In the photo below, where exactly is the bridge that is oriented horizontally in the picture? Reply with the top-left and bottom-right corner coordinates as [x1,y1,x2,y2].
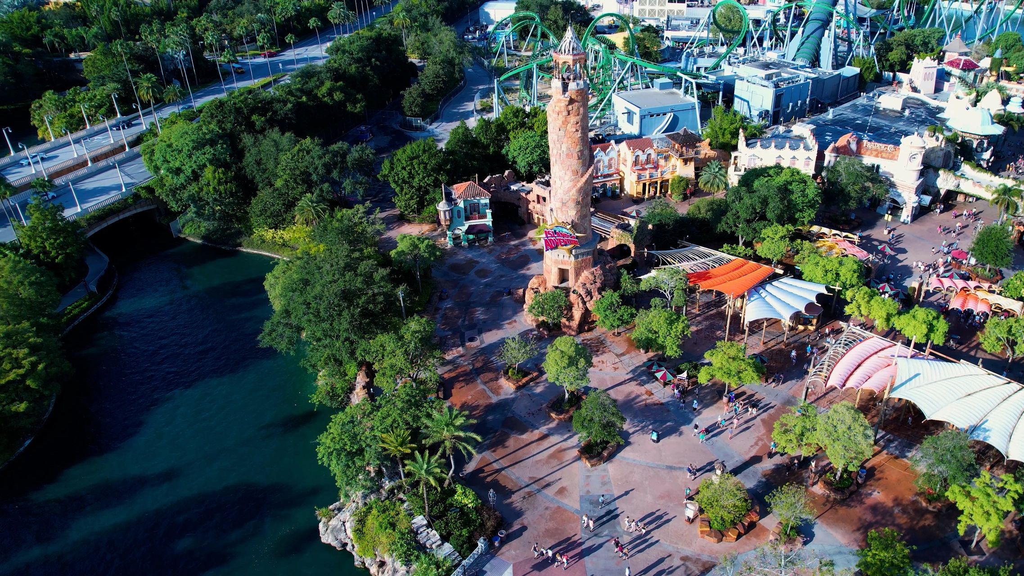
[0,107,274,249]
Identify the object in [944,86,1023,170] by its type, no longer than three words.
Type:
building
